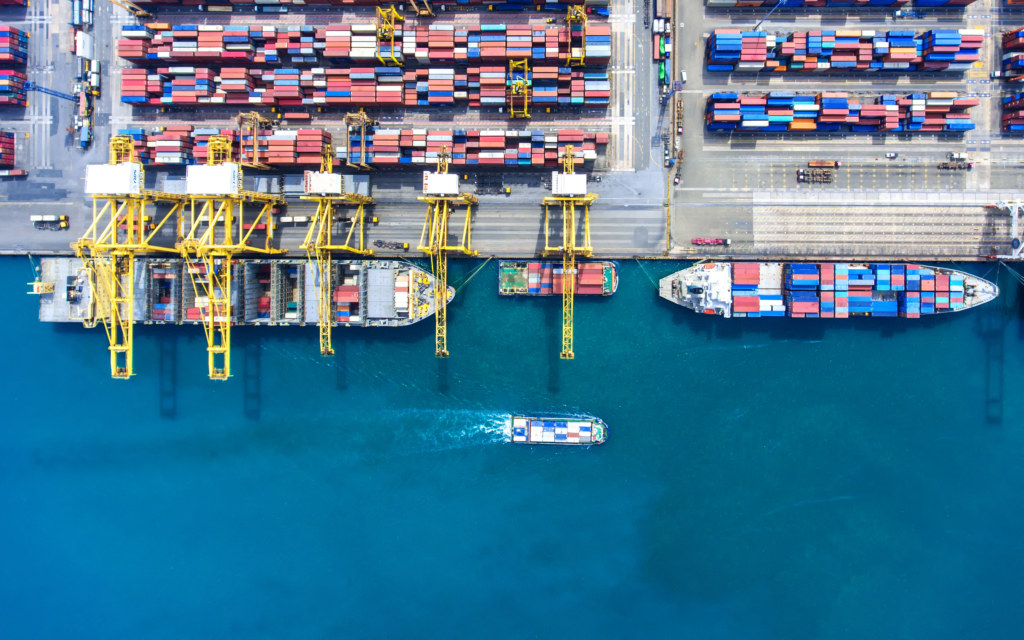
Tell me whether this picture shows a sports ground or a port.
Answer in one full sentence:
The picture captures a port.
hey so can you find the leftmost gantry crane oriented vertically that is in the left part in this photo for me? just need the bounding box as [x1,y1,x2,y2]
[74,134,196,380]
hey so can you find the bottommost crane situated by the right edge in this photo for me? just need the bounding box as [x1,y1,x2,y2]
[980,197,1024,251]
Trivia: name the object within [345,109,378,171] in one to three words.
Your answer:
container crane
